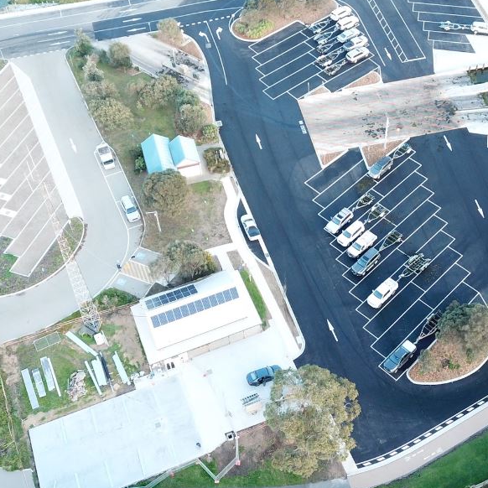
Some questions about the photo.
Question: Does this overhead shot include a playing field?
No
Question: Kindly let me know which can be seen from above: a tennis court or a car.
car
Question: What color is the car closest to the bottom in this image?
blue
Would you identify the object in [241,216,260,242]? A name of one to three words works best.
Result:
car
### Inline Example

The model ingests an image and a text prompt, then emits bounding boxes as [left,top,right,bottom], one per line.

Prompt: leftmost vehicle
[98,144,116,170]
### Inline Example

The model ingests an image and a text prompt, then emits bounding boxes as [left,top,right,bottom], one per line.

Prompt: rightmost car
[469,22,488,36]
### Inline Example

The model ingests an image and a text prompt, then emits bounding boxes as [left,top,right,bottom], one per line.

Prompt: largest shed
[131,269,262,370]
